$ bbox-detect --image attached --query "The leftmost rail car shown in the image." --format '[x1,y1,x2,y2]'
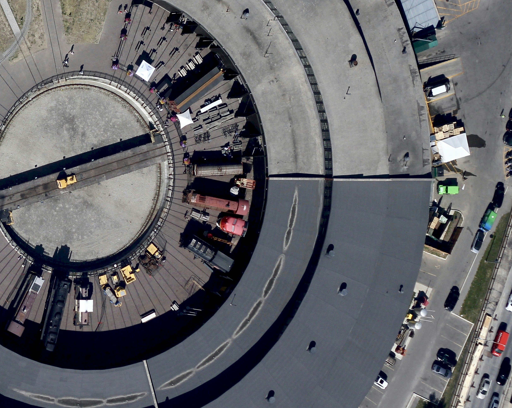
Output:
[2,268,44,335]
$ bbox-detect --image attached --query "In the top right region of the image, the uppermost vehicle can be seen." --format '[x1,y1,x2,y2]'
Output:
[423,78,450,99]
